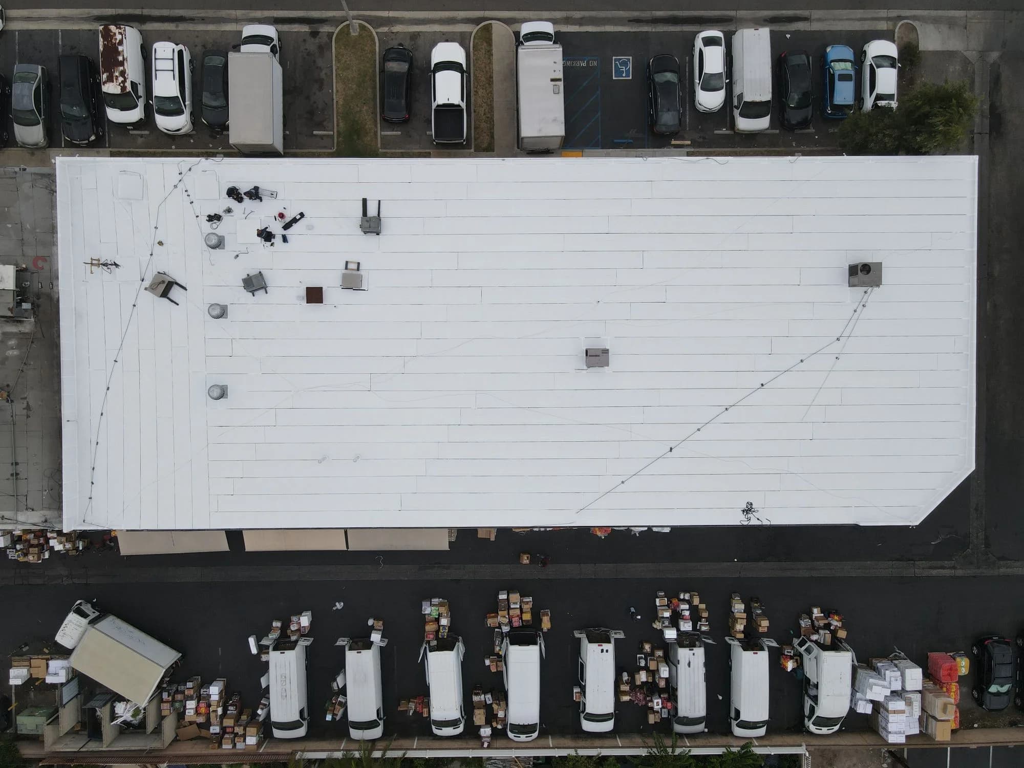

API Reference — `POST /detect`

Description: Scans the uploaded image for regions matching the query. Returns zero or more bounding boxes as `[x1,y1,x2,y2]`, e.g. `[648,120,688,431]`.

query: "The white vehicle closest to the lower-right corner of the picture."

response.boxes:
[792,635,856,734]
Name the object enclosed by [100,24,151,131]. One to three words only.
van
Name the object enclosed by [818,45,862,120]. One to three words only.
car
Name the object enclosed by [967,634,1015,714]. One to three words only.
car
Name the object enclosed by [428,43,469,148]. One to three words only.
truck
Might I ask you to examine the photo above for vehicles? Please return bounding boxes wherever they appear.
[967,634,1015,714]
[513,24,565,157]
[49,597,189,710]
[100,24,151,131]
[719,637,786,738]
[151,42,198,136]
[253,631,319,741]
[196,50,228,129]
[569,630,629,732]
[774,51,816,131]
[10,64,57,149]
[228,29,287,157]
[422,635,467,735]
[332,637,396,740]
[56,57,106,148]
[0,67,18,153]
[818,45,862,120]
[792,635,856,734]
[691,30,730,114]
[428,43,469,148]
[729,27,775,137]
[658,634,723,734]
[856,39,899,115]
[500,631,544,742]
